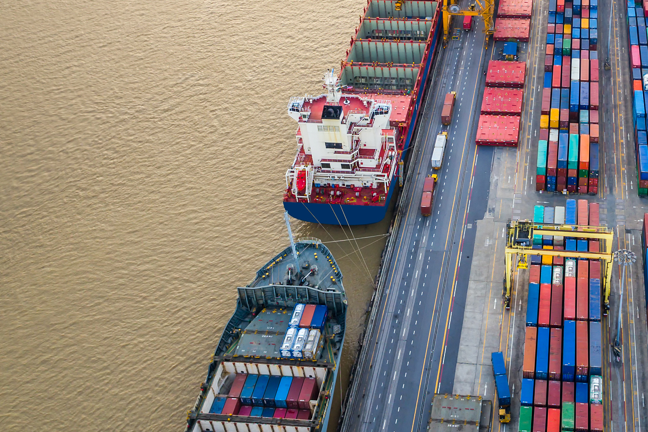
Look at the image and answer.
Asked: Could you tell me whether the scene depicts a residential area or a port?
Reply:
port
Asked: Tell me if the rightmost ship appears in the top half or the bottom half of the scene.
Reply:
top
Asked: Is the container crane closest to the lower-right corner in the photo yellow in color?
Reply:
Yes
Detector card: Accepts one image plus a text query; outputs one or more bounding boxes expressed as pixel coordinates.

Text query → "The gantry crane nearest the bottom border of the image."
[499,218,616,317]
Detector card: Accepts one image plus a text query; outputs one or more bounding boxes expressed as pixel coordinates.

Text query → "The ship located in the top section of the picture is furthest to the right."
[284,0,448,227]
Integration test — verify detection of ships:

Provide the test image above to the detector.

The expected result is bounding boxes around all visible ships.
[284,0,448,227]
[186,212,349,432]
